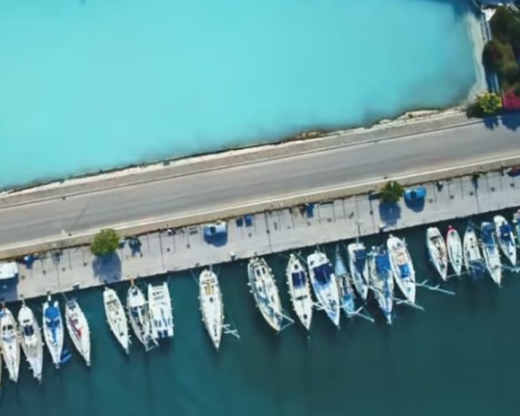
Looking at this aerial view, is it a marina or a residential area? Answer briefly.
marina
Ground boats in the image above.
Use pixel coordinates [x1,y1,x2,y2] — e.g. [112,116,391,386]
[17,296,46,384]
[328,241,369,317]
[41,291,65,370]
[64,287,91,367]
[478,209,520,288]
[0,299,22,383]
[348,234,389,300]
[306,242,371,329]
[424,220,468,281]
[445,217,483,276]
[126,276,153,352]
[383,227,459,305]
[146,271,175,338]
[460,214,509,277]
[283,250,325,331]
[368,231,432,325]
[196,262,242,352]
[248,253,295,332]
[102,281,130,355]
[491,207,520,267]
